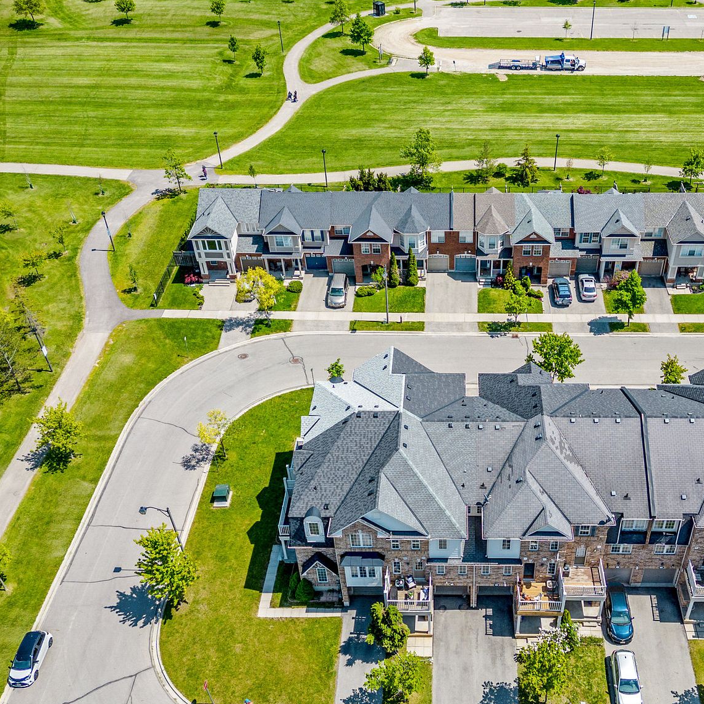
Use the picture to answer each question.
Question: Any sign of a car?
Yes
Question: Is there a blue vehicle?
Yes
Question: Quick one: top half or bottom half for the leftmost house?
top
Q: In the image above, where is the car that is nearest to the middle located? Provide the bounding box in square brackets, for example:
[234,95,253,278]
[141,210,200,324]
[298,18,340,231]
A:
[327,272,350,305]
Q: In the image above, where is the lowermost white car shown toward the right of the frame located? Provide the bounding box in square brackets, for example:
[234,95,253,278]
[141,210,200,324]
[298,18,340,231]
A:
[608,650,643,704]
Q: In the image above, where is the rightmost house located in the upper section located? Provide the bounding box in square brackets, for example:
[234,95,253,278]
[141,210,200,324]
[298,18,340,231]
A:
[637,193,704,285]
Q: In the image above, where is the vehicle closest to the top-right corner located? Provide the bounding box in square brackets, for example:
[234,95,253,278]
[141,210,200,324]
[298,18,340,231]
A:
[543,50,592,73]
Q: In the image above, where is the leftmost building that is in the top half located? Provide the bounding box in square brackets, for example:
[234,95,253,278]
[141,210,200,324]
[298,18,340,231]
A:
[188,188,268,285]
